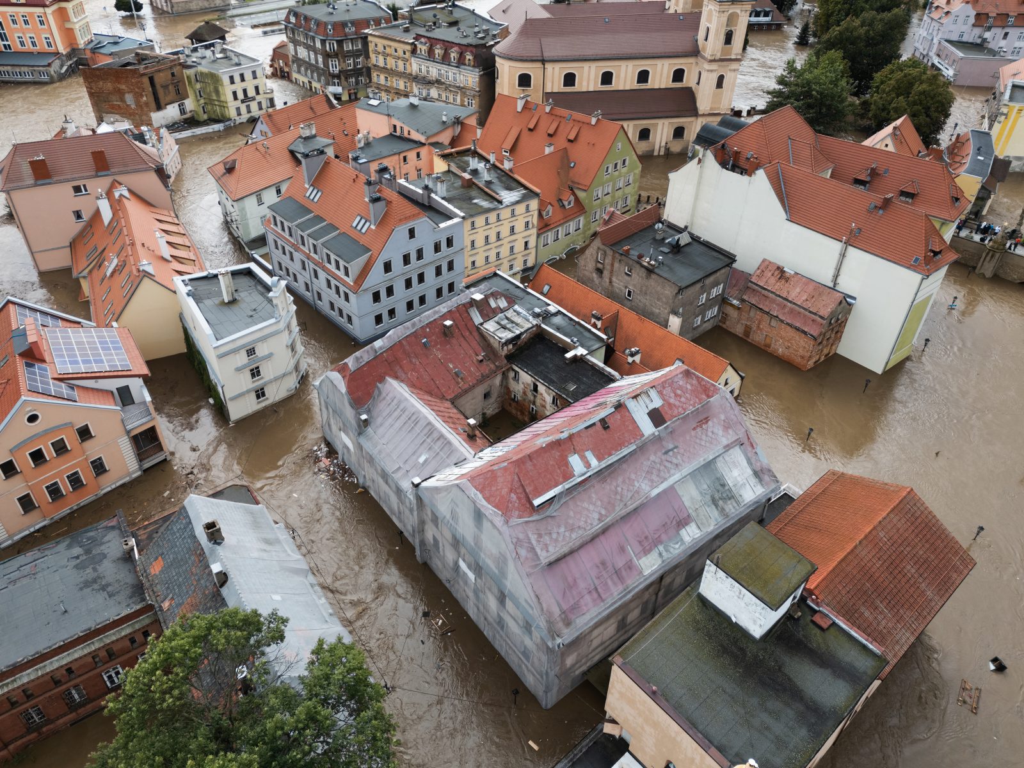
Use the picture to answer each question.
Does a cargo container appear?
No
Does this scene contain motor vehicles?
No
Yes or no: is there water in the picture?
Yes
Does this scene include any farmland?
No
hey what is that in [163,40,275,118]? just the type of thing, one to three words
house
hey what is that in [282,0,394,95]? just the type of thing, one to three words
building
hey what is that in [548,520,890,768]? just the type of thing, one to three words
building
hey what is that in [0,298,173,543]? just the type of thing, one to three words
house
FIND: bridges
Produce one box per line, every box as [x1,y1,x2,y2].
[950,215,1024,290]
